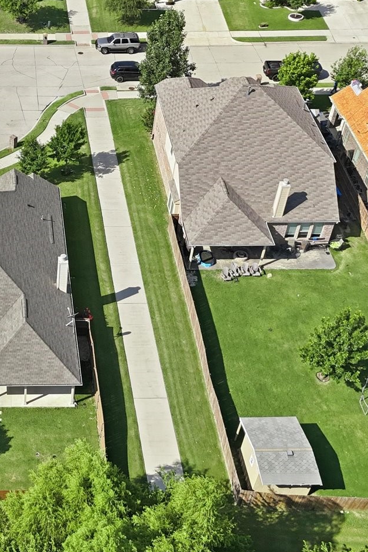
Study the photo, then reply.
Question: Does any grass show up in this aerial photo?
Yes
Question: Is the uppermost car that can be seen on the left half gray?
Yes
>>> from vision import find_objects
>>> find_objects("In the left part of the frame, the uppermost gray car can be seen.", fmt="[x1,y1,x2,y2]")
[95,29,141,53]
